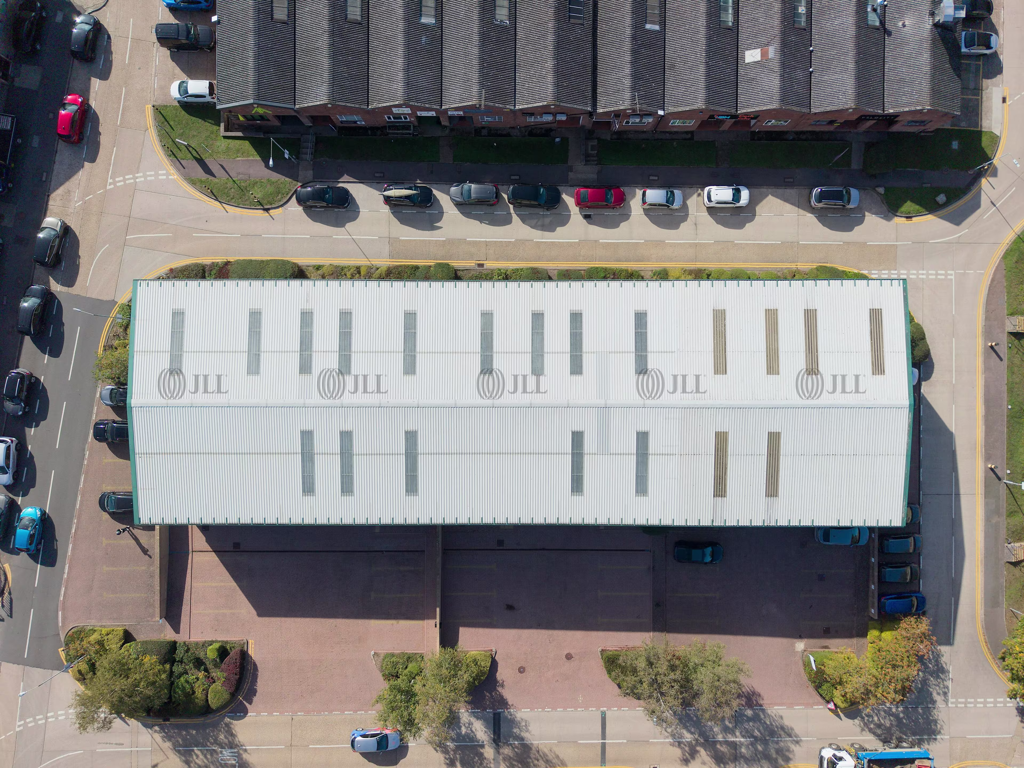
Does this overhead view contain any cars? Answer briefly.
Yes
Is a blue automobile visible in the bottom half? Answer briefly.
Yes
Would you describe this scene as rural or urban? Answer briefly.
urban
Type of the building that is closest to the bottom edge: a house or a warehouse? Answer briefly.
warehouse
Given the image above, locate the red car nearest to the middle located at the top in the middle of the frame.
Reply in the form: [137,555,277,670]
[574,184,626,211]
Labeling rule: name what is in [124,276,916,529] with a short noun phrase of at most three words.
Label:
warehouse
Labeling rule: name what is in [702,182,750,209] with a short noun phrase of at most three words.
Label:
car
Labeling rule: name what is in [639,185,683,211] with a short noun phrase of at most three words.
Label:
car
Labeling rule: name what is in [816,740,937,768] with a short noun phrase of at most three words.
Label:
truck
